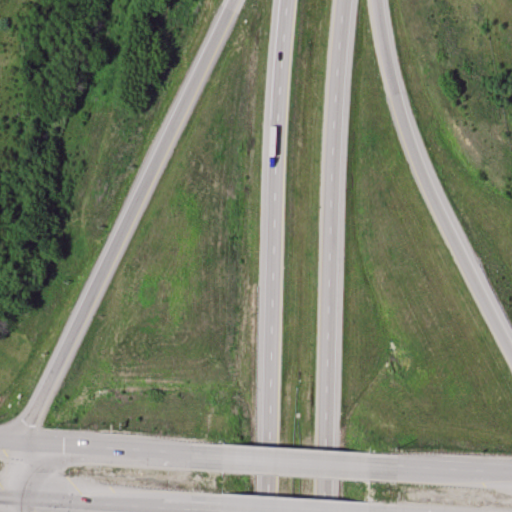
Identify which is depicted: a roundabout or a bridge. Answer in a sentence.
This aerial view contains a bridge.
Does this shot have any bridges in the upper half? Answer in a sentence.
No, no bridge is visible in the upper half.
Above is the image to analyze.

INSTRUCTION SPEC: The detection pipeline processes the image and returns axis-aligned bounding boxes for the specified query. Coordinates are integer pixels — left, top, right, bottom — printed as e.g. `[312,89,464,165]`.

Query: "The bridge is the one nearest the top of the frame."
[217,444,370,481]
